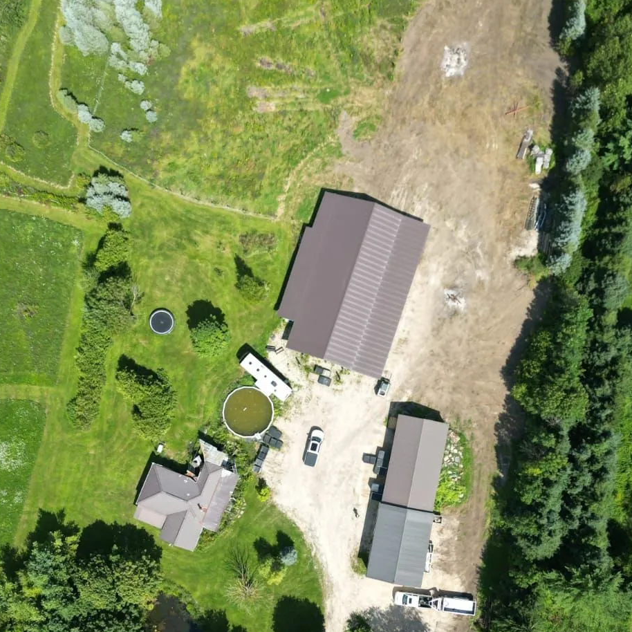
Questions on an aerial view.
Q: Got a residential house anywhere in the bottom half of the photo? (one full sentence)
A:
Yes, looking in the bottom half of the photo, one can make out a residential house.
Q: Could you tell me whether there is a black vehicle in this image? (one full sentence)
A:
No, I can't see a single black vehicle in this photo.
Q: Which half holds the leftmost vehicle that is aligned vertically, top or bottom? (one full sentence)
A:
The leftmost vehicle that is aligned vertically is in the bottom half of the image.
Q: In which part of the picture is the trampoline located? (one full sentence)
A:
You can find the trampoline in the left area of the picture.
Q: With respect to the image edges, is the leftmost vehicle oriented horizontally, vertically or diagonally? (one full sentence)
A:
The leftmost vehicle is laid out diagonally.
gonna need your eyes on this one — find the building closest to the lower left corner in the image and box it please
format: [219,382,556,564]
[131,460,239,551]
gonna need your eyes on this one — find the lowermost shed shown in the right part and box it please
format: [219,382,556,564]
[366,503,433,588]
